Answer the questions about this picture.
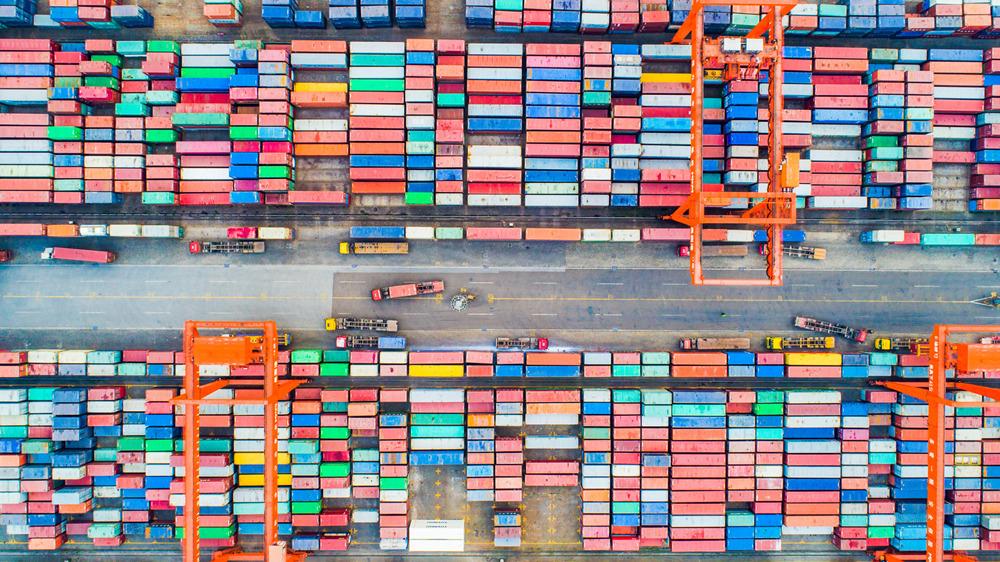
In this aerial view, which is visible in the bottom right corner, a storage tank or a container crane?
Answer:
container crane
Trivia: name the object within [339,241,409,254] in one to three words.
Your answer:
vehicle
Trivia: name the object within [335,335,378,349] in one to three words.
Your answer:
vehicle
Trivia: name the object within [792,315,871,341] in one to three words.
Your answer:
truck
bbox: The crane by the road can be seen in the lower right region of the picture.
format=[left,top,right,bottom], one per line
[867,325,1000,562]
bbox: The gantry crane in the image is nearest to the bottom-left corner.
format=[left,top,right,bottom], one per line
[173,321,317,562]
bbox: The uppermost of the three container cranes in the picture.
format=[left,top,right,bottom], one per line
[660,0,799,287]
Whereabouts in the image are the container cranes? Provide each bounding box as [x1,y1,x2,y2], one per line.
[173,321,317,562]
[867,325,1000,562]
[660,0,799,287]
